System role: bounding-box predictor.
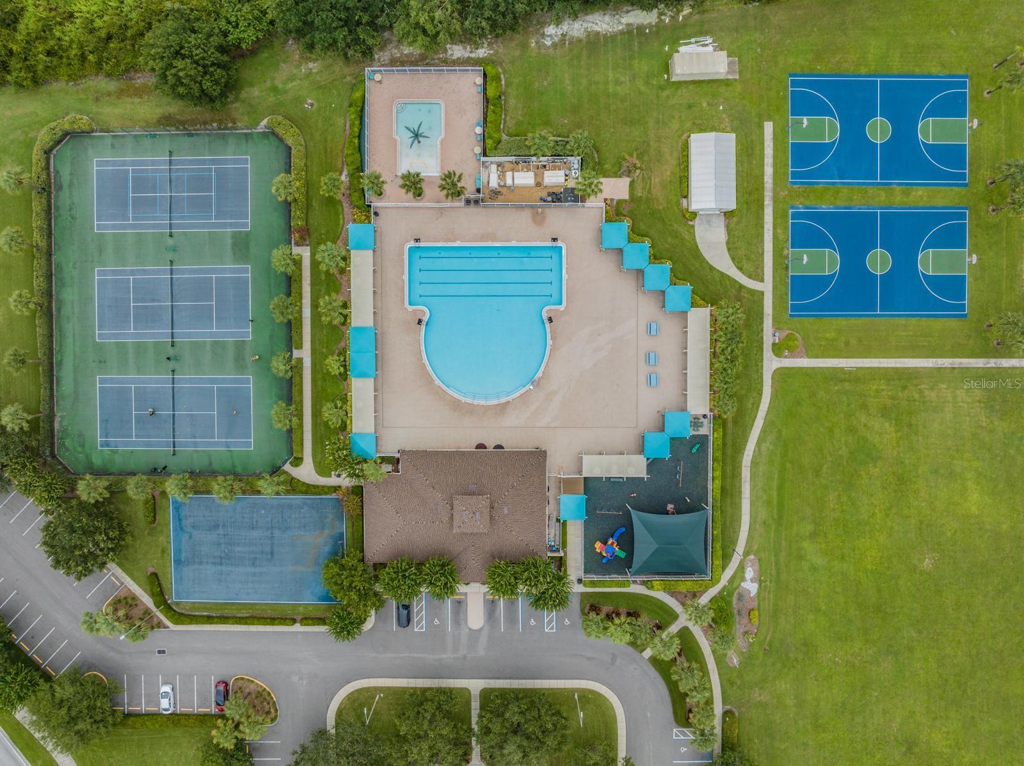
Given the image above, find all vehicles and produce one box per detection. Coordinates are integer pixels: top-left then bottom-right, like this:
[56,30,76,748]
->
[159,683,175,714]
[396,597,411,629]
[213,680,230,711]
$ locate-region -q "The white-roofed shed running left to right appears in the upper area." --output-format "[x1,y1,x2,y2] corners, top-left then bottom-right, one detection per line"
[668,52,731,80]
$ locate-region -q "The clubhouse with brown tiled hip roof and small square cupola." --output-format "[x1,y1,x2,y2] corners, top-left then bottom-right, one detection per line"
[363,449,548,584]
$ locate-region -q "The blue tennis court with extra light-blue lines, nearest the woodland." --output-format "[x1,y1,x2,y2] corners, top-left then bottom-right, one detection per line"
[94,146,250,237]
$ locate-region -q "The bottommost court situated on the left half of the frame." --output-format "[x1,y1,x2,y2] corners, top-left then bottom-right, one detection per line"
[170,496,346,604]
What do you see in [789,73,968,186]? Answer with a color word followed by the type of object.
blue basketball court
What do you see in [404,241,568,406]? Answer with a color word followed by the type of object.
blue swimming pool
